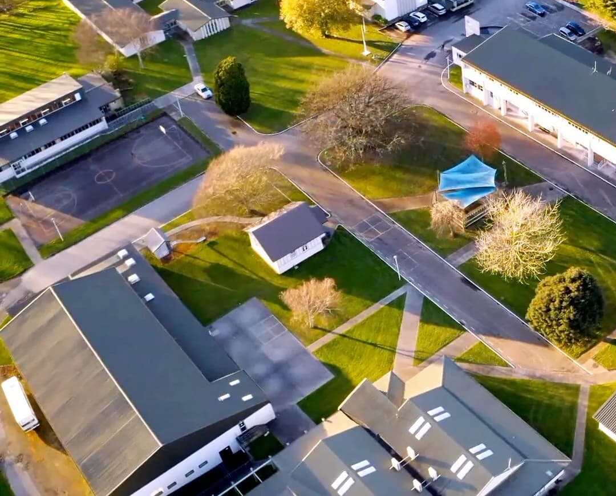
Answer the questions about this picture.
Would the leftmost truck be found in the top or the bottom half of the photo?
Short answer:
bottom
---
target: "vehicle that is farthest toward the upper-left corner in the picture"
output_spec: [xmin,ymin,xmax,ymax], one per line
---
[194,82,212,98]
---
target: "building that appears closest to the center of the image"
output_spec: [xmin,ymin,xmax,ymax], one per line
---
[244,200,341,273]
